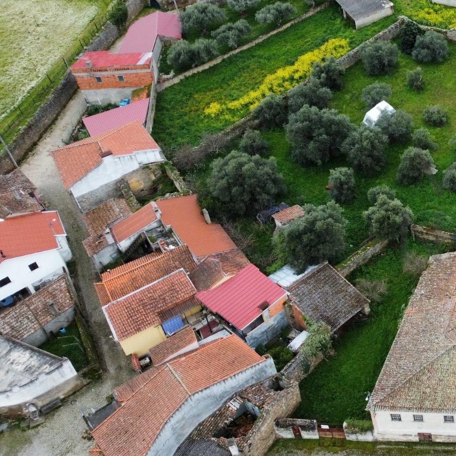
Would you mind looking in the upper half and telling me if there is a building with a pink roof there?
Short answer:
Yes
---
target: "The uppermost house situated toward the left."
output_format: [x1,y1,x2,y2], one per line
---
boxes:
[119,11,182,62]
